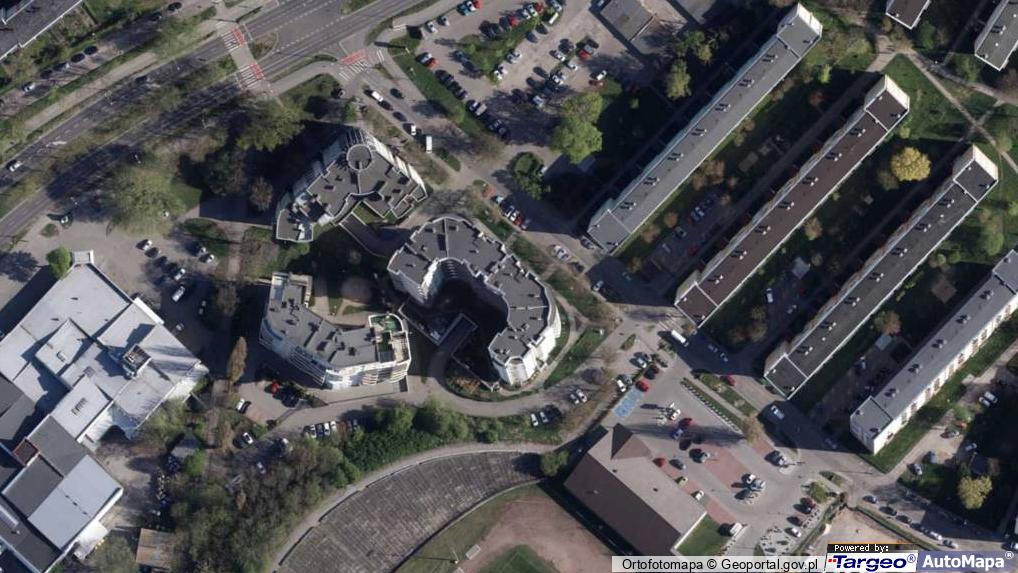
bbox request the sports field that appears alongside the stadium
[460,495,638,573]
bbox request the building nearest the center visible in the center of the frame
[388,217,557,378]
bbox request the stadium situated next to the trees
[271,450,541,573]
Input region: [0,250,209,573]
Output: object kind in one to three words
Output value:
building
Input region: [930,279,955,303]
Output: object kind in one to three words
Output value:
shed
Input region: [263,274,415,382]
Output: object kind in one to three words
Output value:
building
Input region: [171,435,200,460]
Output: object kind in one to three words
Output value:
shed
